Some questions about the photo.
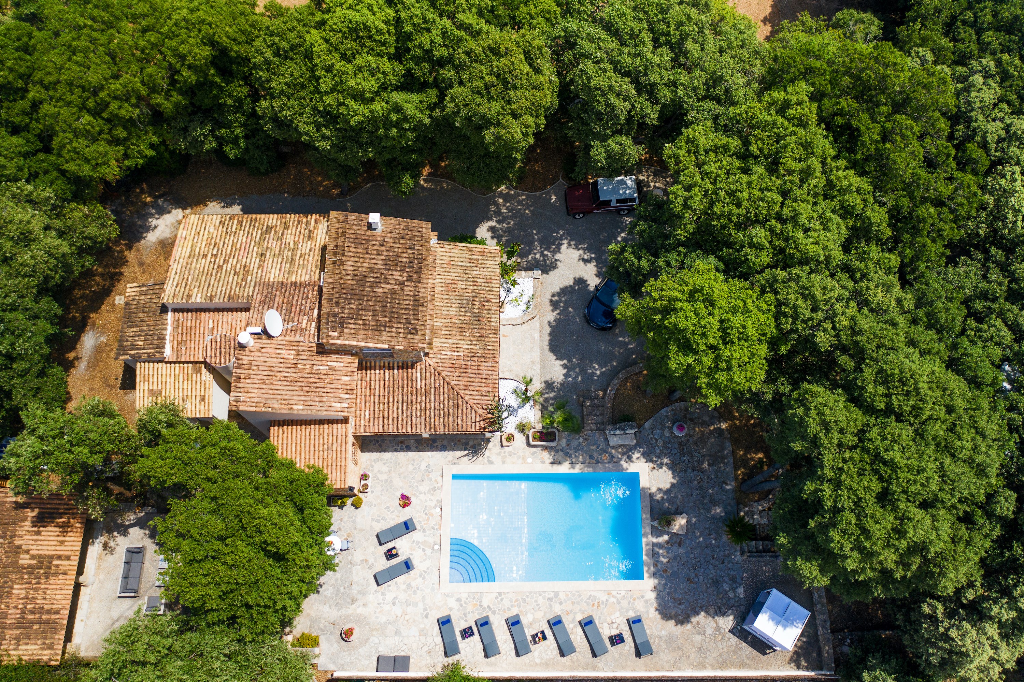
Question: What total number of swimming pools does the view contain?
one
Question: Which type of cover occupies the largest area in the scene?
trees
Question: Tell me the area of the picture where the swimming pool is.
bottom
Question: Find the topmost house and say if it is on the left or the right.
left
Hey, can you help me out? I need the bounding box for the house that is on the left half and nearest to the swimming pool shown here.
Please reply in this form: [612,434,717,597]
[114,212,501,496]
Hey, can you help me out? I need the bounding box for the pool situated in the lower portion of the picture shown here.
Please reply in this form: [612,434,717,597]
[439,463,654,593]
